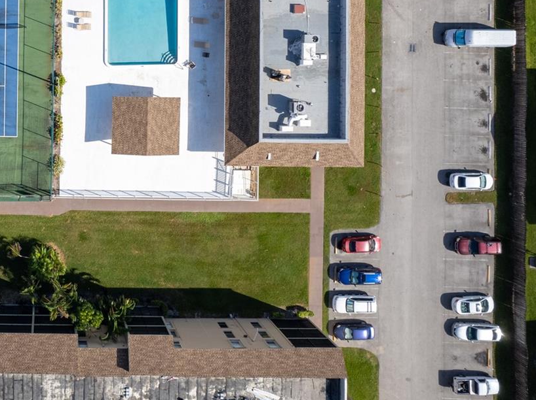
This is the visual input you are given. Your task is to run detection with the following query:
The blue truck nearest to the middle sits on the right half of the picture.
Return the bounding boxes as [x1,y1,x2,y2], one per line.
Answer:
[336,266,383,287]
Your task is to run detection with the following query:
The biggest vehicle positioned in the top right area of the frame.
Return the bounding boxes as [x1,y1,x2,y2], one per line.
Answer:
[440,28,515,50]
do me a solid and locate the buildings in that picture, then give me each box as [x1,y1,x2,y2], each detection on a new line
[222,0,365,167]
[0,304,346,400]
[111,97,180,155]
